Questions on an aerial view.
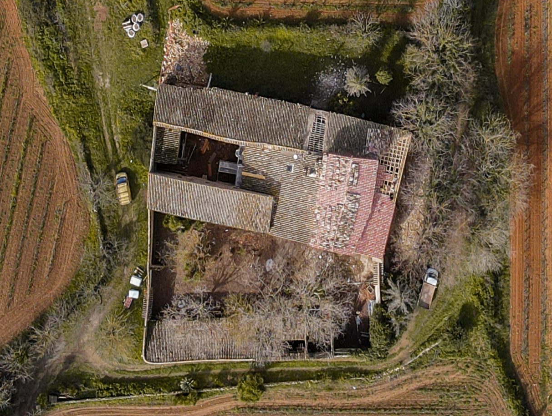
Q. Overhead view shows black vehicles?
No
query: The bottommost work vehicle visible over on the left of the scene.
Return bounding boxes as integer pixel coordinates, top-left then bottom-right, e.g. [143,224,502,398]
[123,288,140,308]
